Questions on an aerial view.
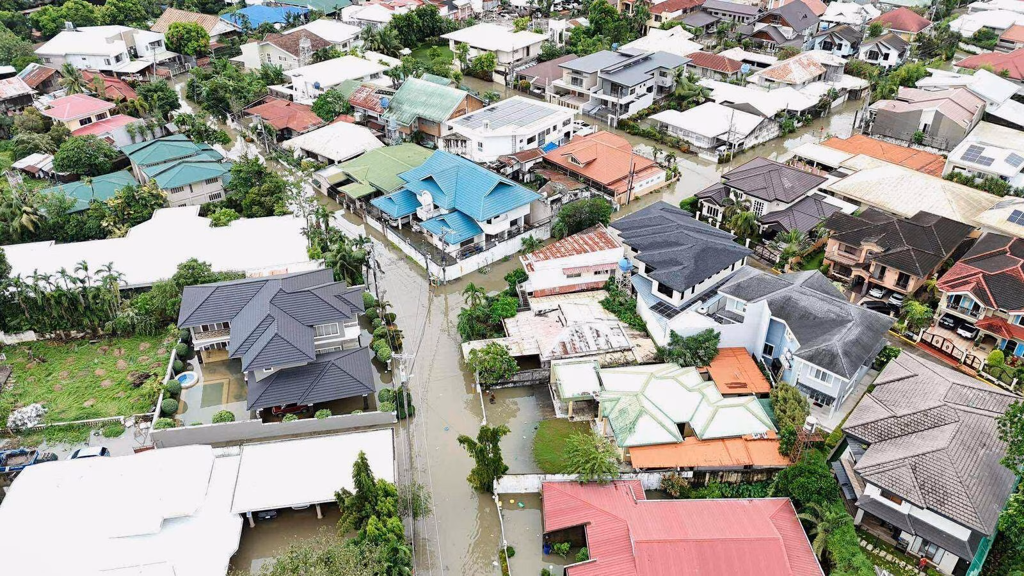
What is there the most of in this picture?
buildings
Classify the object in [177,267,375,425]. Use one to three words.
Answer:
house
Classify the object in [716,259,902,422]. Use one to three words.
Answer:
house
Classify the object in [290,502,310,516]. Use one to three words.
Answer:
car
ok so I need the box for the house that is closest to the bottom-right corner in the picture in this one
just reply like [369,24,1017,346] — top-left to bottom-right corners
[833,349,1024,576]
